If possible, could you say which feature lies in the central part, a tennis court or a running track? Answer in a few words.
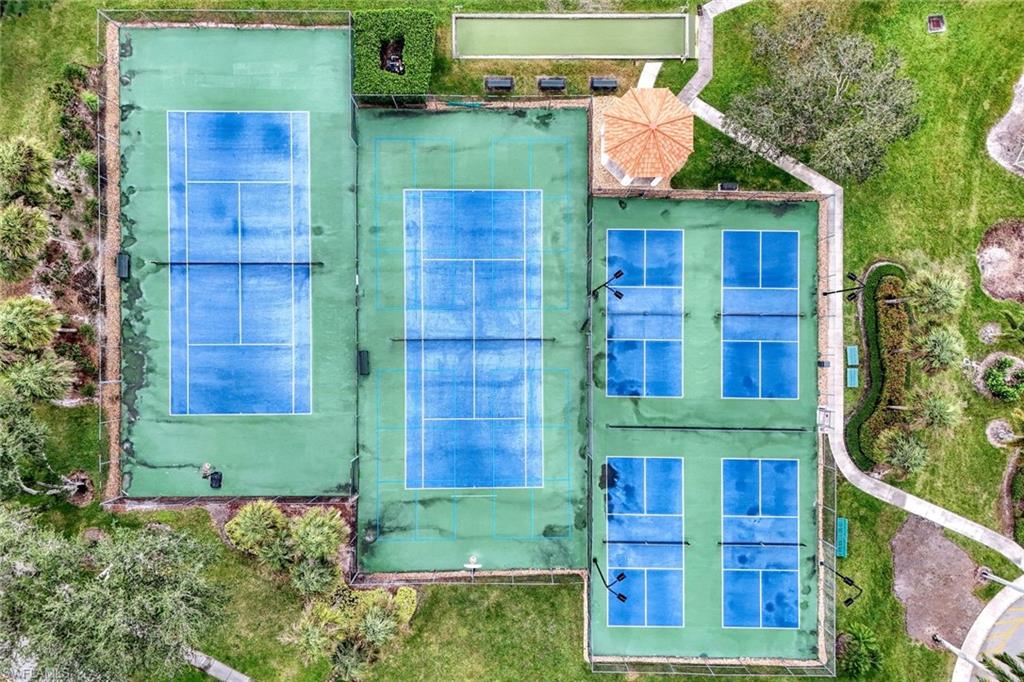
tennis court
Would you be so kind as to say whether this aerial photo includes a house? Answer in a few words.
No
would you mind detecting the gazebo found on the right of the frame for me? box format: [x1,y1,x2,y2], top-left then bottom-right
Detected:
[599,89,693,185]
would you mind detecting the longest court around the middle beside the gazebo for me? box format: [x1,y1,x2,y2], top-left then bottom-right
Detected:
[357,107,588,574]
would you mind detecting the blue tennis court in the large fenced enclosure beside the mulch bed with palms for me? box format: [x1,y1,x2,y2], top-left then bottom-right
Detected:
[119,27,357,497]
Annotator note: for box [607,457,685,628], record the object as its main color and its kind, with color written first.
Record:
blue sports court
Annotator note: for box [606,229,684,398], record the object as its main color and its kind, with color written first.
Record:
blue sports court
